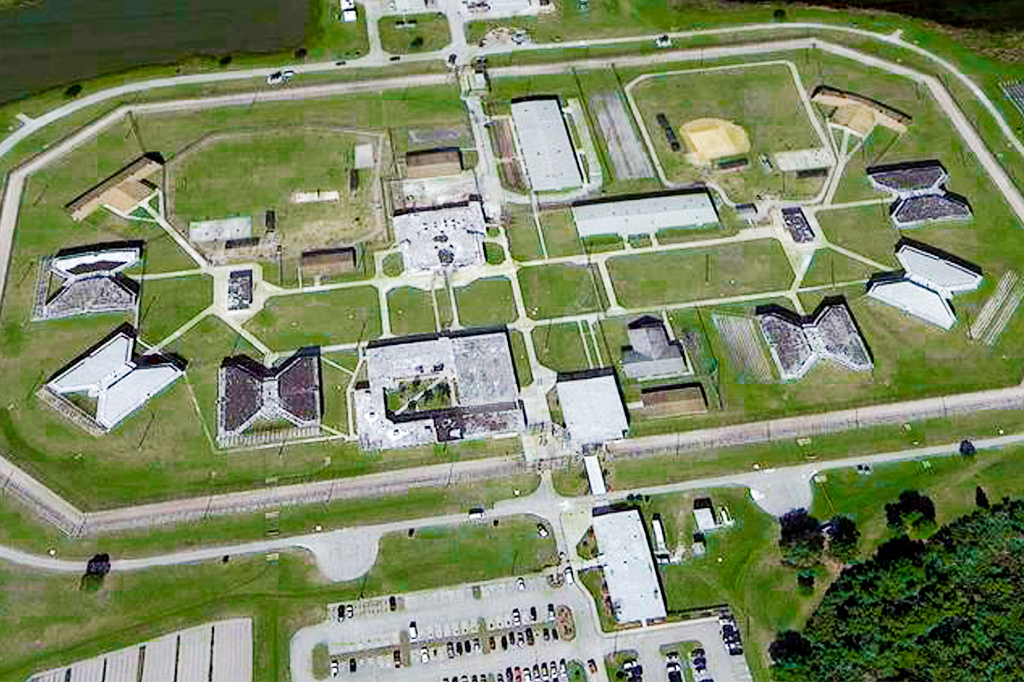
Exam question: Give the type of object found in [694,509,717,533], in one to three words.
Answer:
shed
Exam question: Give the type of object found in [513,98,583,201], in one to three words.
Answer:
building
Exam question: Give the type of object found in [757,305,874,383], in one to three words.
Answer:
building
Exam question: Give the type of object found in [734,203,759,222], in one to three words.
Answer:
shed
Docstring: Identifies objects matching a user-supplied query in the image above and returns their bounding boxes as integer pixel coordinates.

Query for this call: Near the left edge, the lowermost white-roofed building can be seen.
[48,331,183,434]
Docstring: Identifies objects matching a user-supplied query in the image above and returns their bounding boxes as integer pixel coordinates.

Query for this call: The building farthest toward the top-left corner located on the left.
[66,159,163,223]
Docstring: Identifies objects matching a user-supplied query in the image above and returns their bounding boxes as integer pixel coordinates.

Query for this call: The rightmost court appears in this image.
[775,145,835,169]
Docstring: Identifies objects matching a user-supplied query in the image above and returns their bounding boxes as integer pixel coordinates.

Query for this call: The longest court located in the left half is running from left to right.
[189,214,253,243]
